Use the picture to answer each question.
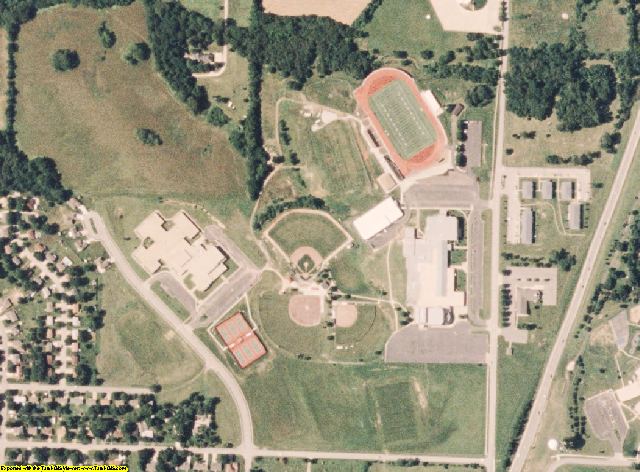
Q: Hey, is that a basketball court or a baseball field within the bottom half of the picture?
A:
baseball field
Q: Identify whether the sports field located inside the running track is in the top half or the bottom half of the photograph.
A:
top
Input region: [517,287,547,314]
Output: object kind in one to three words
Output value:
building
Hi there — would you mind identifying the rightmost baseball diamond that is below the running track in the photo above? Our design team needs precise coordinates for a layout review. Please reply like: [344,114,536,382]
[335,303,376,343]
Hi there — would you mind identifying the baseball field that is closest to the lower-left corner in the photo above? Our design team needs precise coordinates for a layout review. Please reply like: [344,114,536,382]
[256,294,330,358]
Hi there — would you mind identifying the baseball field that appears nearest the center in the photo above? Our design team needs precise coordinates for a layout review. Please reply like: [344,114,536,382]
[264,209,354,280]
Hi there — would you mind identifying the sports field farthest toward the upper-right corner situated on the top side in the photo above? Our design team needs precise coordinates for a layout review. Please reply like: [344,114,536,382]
[366,78,439,162]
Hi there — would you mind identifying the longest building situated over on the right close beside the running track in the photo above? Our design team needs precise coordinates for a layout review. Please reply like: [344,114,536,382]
[404,209,466,324]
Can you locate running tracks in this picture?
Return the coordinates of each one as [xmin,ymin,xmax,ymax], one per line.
[346,65,448,183]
